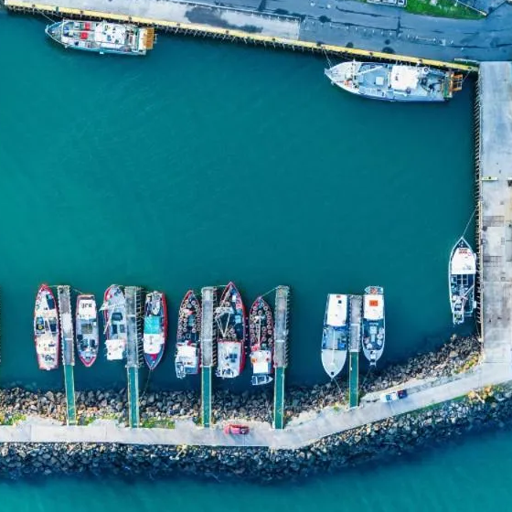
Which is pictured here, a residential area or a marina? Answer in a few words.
marina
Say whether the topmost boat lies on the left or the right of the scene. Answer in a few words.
left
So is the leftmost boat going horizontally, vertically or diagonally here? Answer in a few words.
vertically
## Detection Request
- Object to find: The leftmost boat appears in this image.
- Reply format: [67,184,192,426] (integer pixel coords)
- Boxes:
[34,284,60,371]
